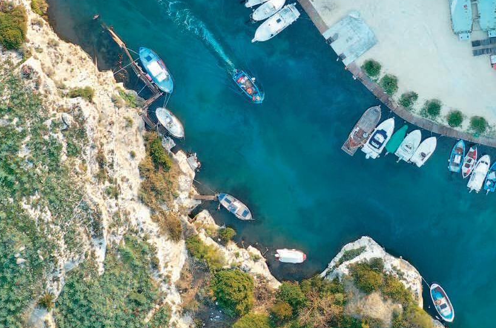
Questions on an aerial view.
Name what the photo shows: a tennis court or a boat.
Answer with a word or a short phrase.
boat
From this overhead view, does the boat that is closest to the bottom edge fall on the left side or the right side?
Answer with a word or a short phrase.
right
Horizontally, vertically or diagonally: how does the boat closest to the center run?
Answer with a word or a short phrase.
diagonally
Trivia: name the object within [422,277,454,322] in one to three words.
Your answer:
boat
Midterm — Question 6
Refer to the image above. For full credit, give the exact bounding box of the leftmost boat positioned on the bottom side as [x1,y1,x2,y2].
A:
[218,193,252,220]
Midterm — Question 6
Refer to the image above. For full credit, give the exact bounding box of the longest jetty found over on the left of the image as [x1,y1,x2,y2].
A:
[98,20,164,92]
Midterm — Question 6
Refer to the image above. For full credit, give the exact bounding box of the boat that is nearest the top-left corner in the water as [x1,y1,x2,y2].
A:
[132,49,173,106]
